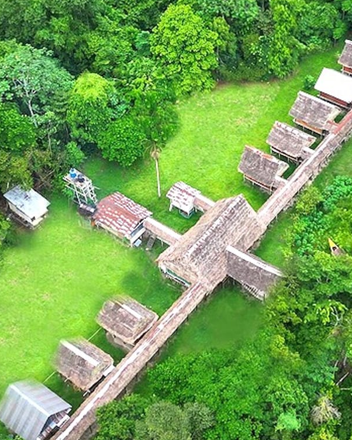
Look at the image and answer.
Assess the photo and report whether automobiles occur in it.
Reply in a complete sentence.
No, I can't see a single automobile in this photo.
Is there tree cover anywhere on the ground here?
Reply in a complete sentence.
Yes, the picture does contain tree cover.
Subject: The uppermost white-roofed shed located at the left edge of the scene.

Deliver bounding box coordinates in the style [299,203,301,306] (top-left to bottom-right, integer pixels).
[0,180,55,236]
